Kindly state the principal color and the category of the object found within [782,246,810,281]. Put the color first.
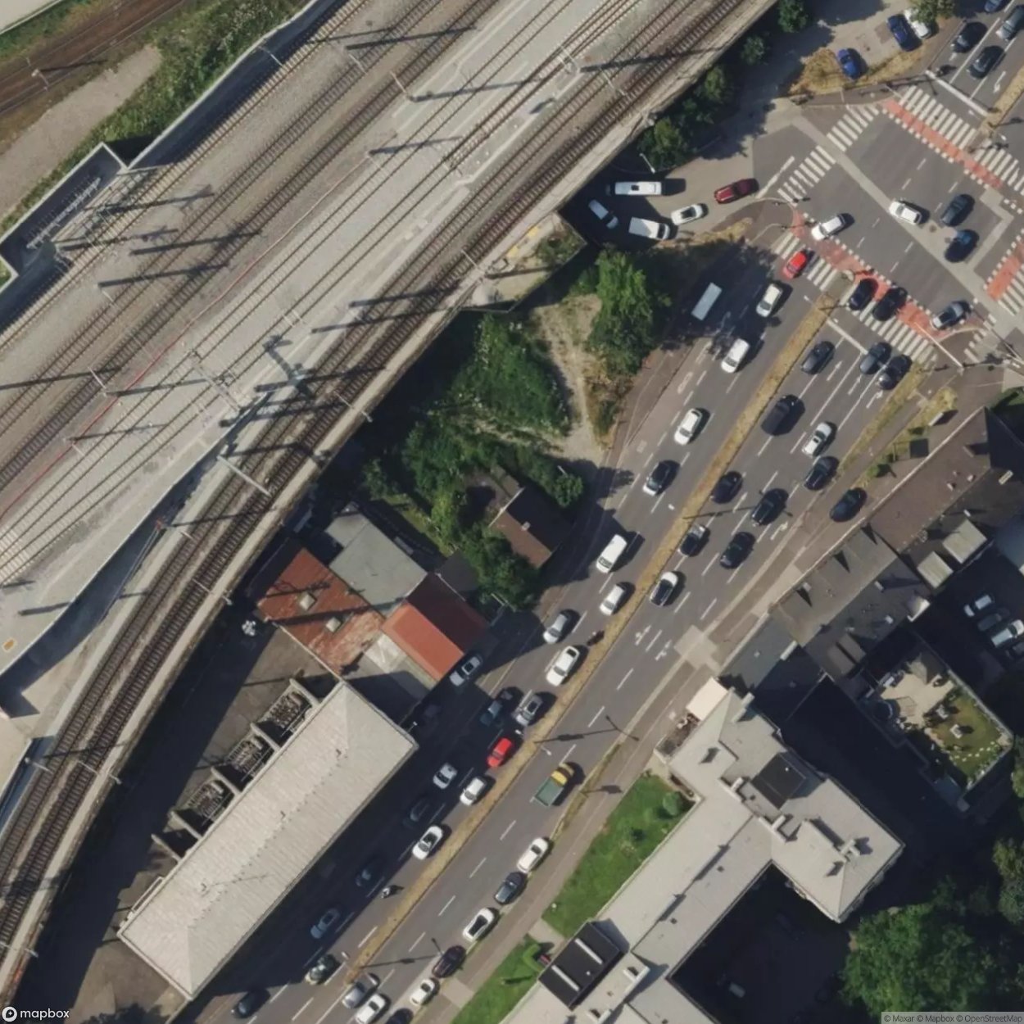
red car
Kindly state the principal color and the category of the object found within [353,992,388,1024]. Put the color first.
white car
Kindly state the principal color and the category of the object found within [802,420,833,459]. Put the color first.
white car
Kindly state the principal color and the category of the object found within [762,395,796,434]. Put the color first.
black car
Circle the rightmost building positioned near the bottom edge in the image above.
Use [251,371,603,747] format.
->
[498,689,905,1024]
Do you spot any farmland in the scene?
No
